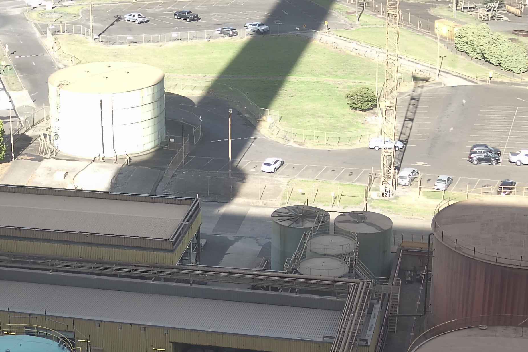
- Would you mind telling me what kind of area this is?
industrial area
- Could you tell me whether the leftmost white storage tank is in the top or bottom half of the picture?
top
